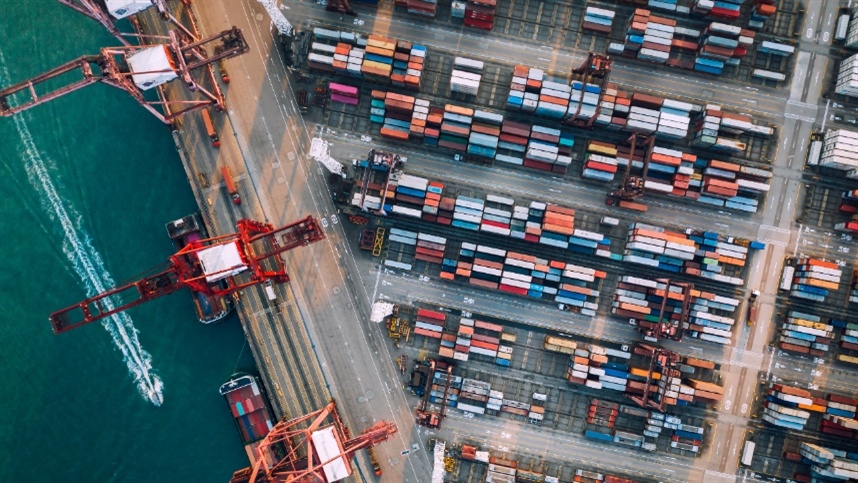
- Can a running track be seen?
No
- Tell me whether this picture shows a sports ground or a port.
port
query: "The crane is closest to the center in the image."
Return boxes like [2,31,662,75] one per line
[357,147,401,216]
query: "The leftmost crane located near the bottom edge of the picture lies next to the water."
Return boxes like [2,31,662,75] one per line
[200,391,398,483]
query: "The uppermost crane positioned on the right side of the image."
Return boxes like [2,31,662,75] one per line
[566,52,612,127]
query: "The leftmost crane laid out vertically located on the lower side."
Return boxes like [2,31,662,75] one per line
[416,356,454,427]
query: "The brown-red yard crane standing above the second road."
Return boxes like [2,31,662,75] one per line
[608,132,657,199]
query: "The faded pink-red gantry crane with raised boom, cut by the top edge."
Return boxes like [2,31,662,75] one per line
[35,0,208,52]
